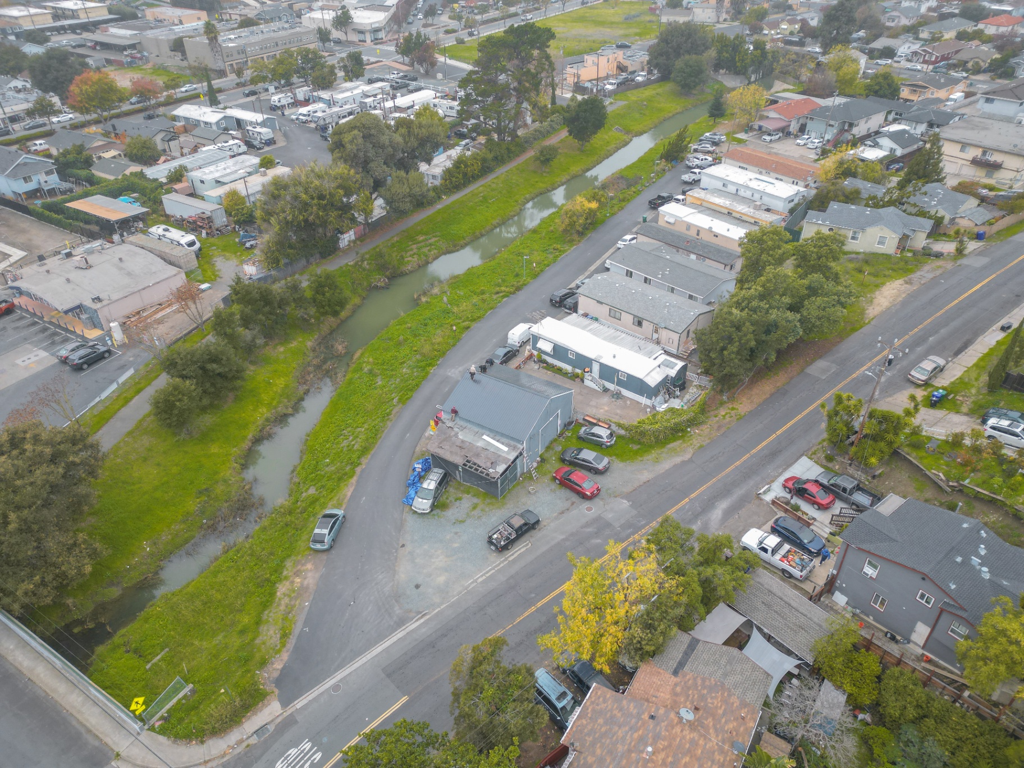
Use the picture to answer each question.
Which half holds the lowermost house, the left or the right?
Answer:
right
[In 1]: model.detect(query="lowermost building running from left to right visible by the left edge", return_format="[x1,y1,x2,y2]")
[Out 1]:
[8,241,188,333]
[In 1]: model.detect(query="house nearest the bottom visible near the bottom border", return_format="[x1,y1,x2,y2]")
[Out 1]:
[561,629,773,768]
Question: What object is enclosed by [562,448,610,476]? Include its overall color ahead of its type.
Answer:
gray car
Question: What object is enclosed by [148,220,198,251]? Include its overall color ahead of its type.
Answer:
white trailer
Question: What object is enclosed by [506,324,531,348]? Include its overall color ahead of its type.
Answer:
white vehicle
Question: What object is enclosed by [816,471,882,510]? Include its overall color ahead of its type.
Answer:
gray truck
